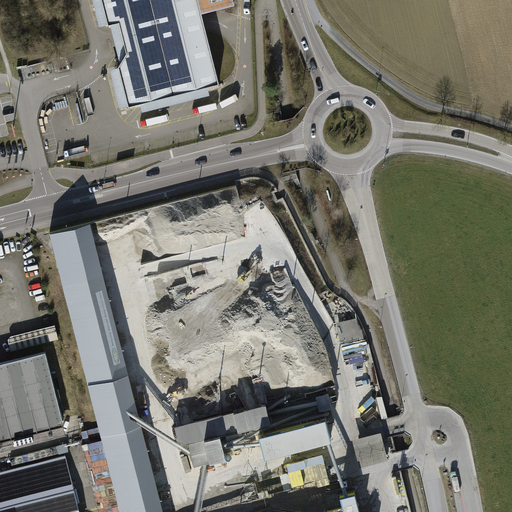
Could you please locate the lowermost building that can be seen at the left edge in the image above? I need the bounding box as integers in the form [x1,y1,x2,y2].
[0,456,80,512]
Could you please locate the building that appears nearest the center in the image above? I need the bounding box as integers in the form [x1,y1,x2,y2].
[338,318,364,344]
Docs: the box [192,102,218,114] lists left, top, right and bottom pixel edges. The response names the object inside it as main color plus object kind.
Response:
white vehicle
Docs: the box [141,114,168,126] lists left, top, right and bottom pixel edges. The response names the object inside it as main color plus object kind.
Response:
white vehicle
